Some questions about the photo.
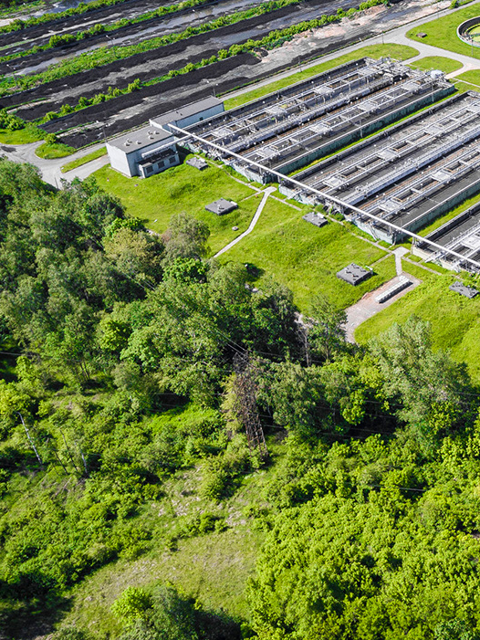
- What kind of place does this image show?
industrial area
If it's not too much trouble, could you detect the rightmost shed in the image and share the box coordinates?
[148,97,224,138]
